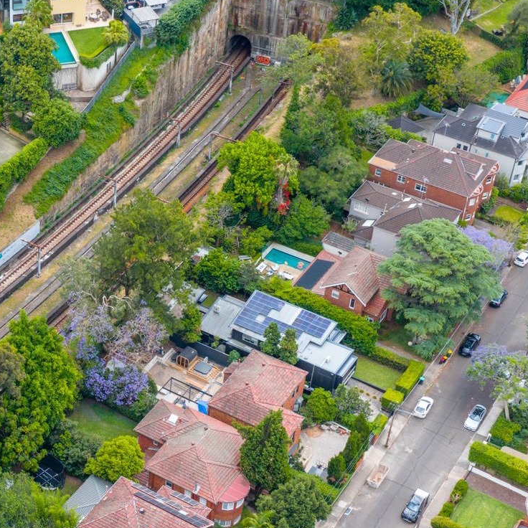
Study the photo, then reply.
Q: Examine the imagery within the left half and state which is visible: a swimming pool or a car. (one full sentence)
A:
You can see a swimming pool within the left half.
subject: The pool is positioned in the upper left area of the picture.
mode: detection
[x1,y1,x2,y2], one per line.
[48,29,75,66]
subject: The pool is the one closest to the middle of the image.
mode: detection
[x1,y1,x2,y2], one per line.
[254,237,317,276]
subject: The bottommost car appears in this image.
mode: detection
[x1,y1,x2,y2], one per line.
[402,479,439,526]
